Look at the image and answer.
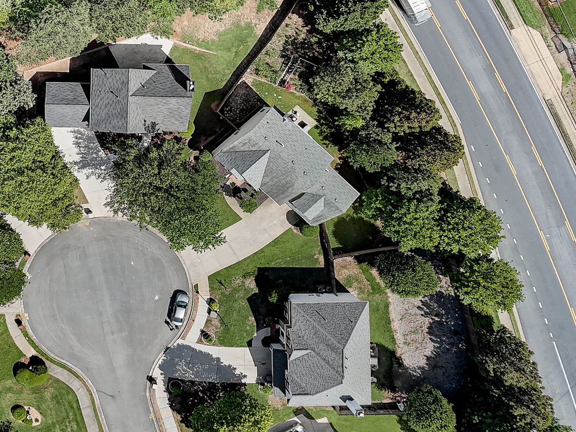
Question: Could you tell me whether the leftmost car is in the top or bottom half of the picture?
bottom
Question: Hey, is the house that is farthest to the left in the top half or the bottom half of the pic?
top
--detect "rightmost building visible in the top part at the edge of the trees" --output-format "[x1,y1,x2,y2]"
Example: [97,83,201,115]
[213,106,360,226]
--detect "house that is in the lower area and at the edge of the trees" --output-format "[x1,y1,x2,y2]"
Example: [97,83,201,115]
[270,291,372,418]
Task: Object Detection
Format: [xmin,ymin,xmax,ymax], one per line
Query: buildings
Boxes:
[45,64,198,133]
[270,291,372,418]
[213,106,360,226]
